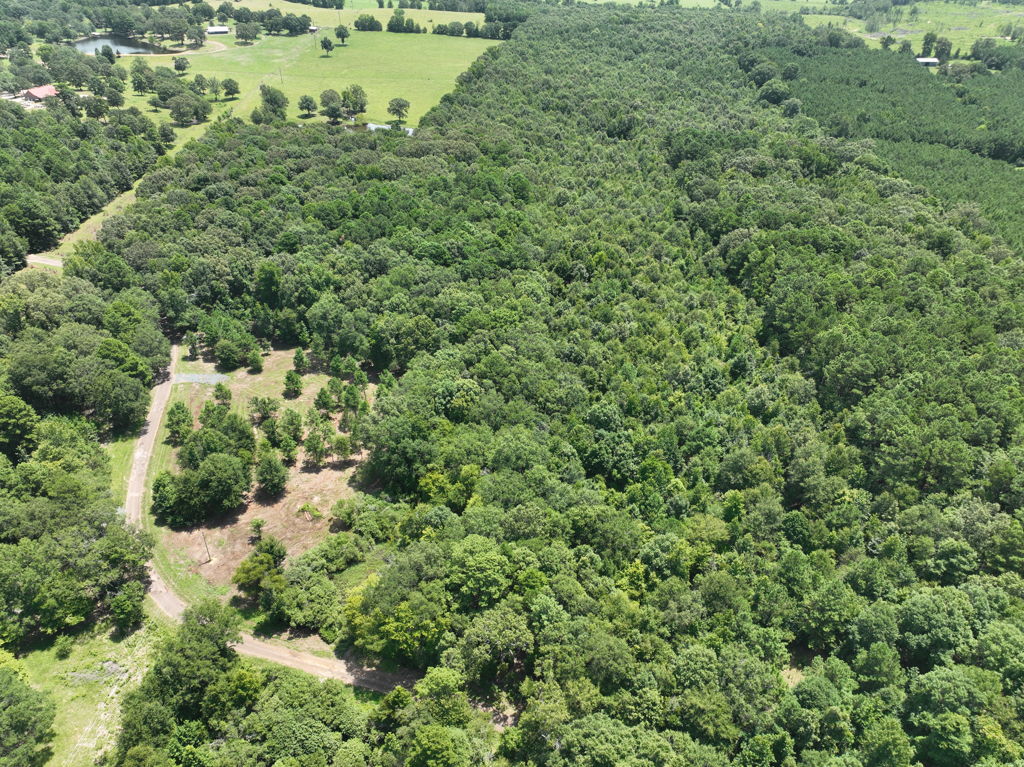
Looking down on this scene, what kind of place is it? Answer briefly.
forest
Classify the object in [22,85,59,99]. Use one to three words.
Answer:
house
